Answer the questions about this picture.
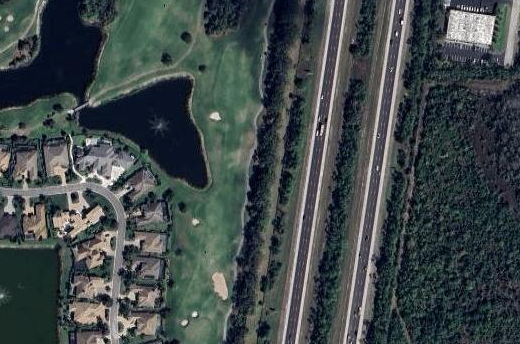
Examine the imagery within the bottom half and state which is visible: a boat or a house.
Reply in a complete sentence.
The one visible within the bottom half is a house.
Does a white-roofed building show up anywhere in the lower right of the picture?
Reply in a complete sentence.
No, there is no white-roofed building in the lower right of the picture.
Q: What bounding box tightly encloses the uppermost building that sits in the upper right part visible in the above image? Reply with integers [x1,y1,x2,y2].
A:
[447,10,497,45]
